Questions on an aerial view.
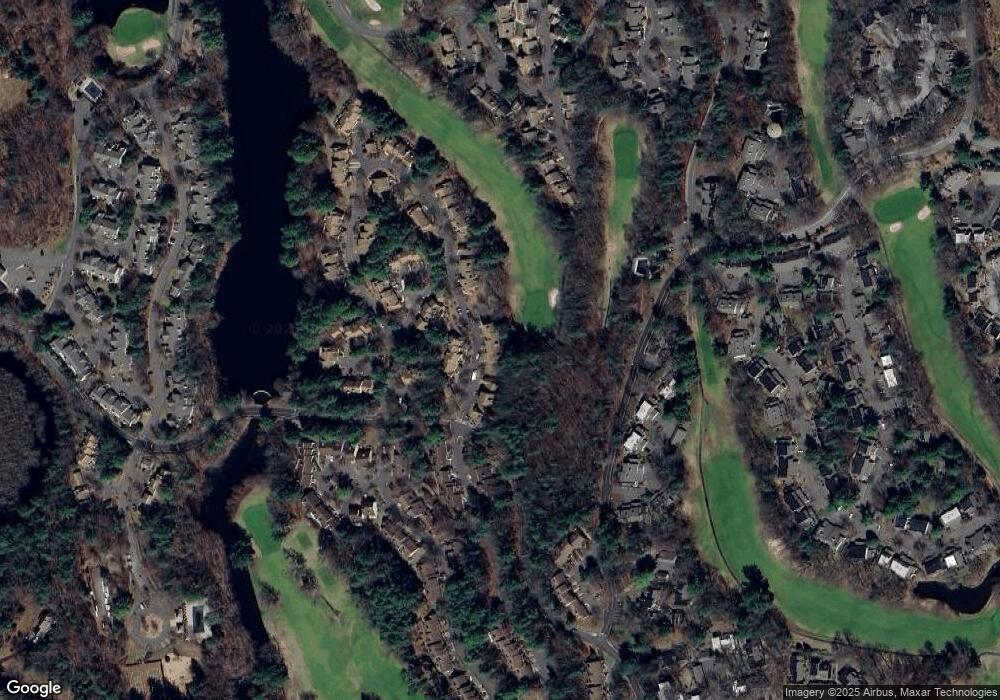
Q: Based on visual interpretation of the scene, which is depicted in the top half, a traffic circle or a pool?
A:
pool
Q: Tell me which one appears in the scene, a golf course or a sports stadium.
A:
golf course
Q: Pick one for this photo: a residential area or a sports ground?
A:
residential area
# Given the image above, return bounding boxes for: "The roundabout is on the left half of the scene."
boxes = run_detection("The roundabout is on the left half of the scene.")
[129,602,173,645]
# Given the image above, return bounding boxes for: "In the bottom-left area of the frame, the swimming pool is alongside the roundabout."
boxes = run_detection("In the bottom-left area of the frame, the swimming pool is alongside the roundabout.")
[186,599,212,644]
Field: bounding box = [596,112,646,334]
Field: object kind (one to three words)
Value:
golf course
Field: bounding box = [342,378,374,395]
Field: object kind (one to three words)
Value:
house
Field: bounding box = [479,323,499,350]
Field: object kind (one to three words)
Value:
house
